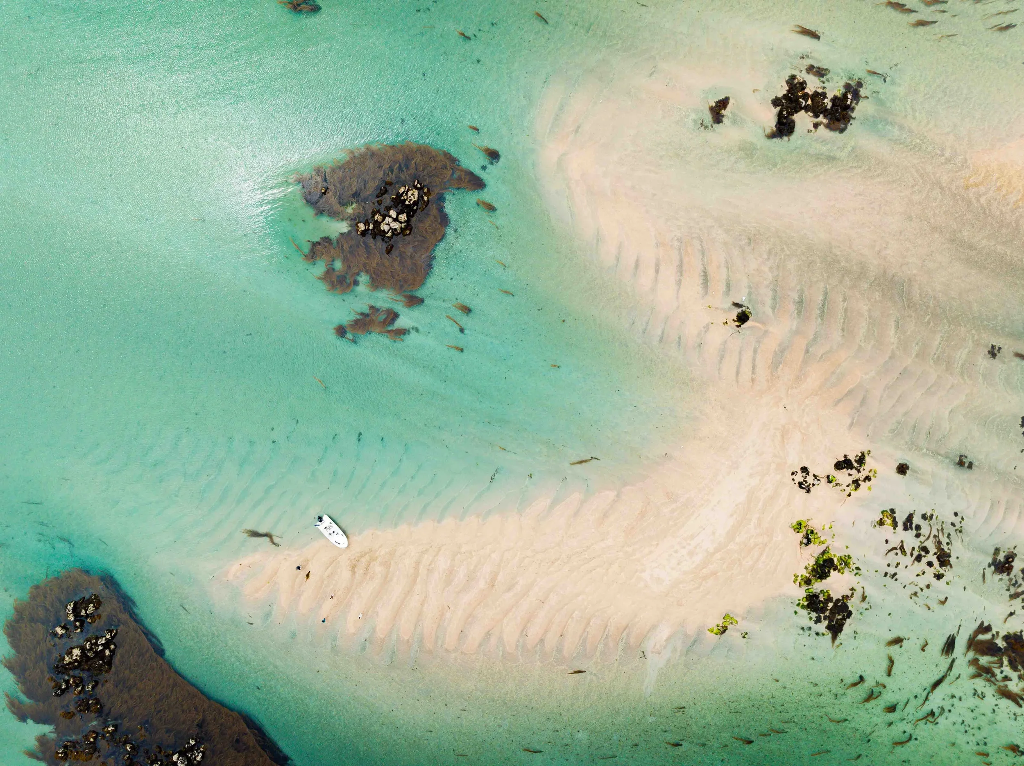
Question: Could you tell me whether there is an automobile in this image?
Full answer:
No, no automobile is visible in the scene.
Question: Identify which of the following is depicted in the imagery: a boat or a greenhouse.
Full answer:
The one in the frame is a boat.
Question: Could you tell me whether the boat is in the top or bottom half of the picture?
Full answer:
The bottom half of the photo is where the boat is.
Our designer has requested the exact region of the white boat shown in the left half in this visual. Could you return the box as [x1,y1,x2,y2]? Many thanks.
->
[316,513,348,548]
